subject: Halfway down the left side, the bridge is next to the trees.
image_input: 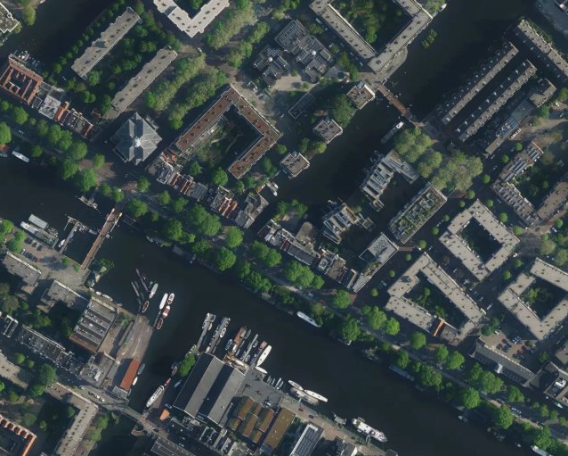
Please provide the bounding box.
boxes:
[80,208,123,270]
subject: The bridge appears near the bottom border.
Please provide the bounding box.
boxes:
[100,401,155,434]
